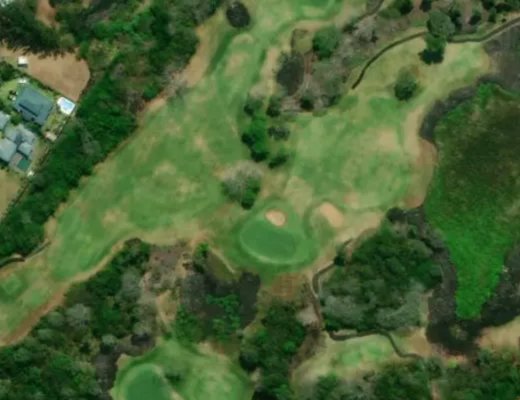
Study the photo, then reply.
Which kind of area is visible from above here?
golf course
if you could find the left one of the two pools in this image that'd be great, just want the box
[10,152,31,172]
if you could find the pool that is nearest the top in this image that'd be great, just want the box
[57,96,75,114]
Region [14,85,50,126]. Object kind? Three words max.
house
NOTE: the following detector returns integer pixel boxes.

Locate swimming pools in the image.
[57,96,75,114]
[10,152,31,172]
